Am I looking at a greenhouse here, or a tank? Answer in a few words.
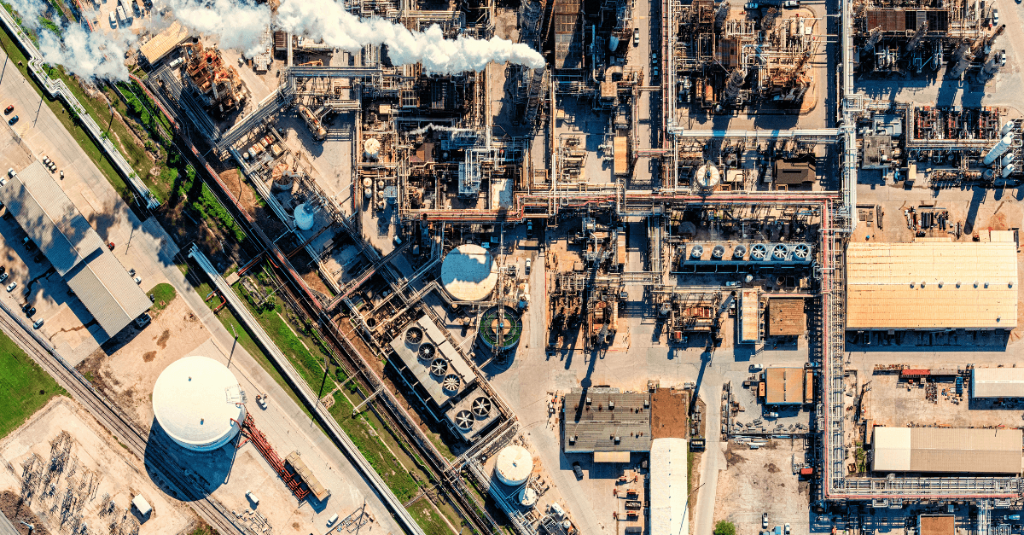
tank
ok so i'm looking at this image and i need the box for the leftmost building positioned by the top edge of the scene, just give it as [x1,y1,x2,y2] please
[140,19,187,71]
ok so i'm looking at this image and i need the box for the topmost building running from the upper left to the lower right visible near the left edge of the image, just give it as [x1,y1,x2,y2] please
[0,160,104,282]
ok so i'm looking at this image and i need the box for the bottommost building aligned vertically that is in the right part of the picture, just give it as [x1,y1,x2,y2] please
[648,438,687,535]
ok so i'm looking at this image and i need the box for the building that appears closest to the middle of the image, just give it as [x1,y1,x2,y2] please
[492,179,512,212]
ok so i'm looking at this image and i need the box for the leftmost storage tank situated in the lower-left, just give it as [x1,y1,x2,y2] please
[152,354,249,457]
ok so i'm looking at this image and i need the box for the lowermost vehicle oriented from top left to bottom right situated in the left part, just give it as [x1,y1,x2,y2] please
[245,490,260,505]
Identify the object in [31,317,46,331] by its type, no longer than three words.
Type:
vehicle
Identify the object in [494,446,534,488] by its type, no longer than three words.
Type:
storage tank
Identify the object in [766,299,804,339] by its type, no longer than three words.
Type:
building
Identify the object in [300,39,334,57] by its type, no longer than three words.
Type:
building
